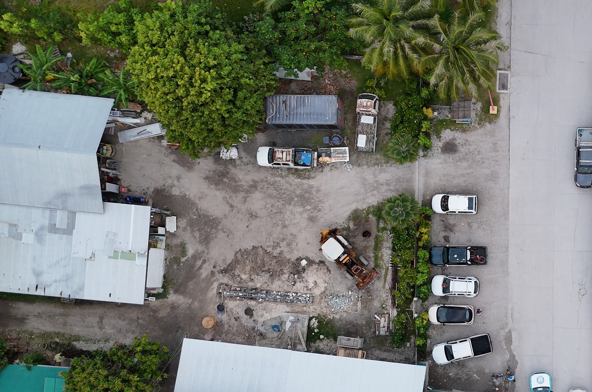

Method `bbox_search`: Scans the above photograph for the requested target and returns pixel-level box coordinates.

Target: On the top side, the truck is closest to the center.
[260,144,325,169]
